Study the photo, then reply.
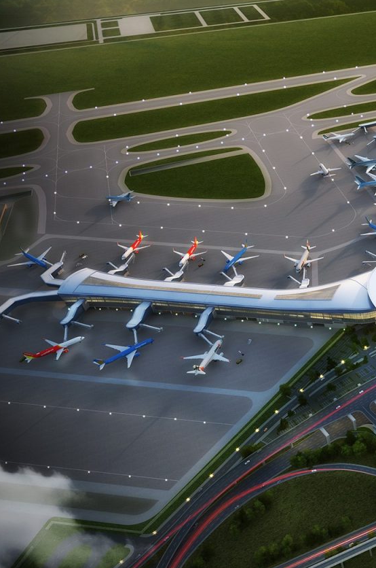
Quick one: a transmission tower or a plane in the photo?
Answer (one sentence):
It is a plane that can be seen here.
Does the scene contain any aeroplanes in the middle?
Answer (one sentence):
Yes, looking in the middle, one can make out an aeroplane.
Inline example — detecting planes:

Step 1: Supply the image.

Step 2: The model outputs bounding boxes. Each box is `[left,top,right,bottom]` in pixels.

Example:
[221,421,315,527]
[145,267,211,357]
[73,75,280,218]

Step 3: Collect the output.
[357,172,376,189]
[348,154,376,171]
[7,242,52,266]
[221,243,255,272]
[95,340,154,366]
[185,343,222,372]
[323,132,355,143]
[20,335,85,363]
[315,165,339,176]
[173,237,209,266]
[287,243,323,273]
[118,230,155,260]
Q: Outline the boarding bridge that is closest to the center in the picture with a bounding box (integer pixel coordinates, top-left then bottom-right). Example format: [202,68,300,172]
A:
[161,259,190,283]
